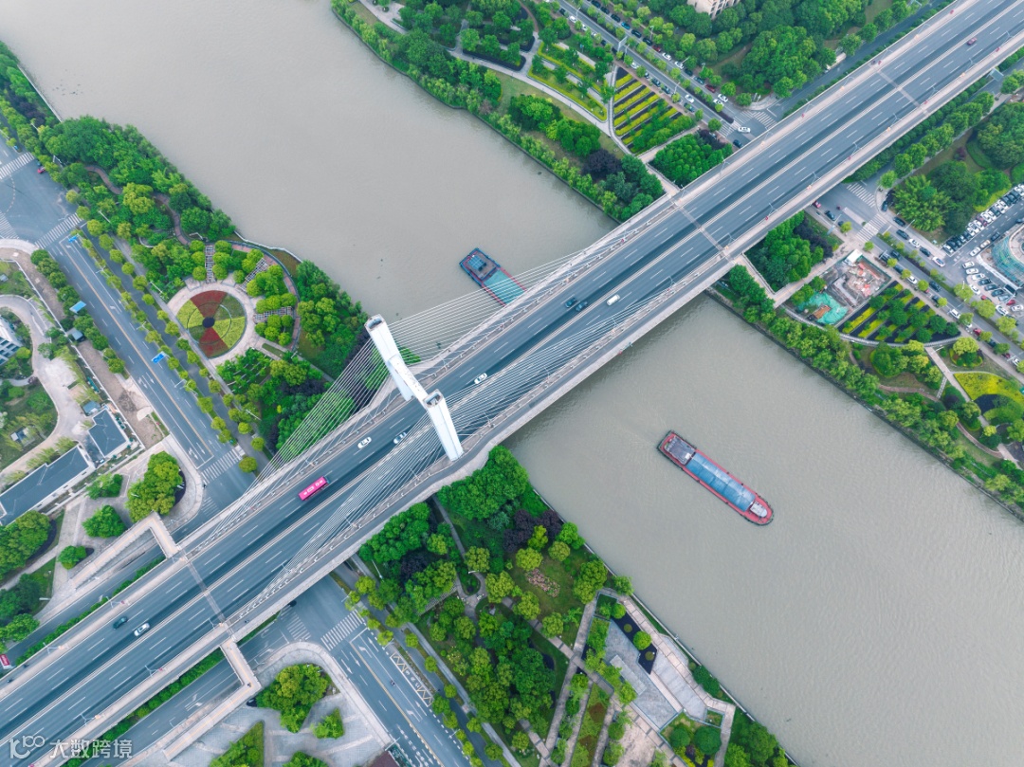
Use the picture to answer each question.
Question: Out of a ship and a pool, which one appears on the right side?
ship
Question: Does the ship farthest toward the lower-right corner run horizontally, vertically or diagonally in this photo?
diagonally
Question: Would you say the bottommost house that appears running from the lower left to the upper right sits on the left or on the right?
left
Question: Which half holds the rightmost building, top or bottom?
top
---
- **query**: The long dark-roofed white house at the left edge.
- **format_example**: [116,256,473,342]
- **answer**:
[0,446,98,524]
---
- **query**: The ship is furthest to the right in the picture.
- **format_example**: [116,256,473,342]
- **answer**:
[657,429,775,525]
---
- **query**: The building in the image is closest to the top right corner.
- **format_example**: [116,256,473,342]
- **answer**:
[985,219,1024,283]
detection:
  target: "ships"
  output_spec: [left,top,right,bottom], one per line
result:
[460,247,528,304]
[657,429,775,525]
